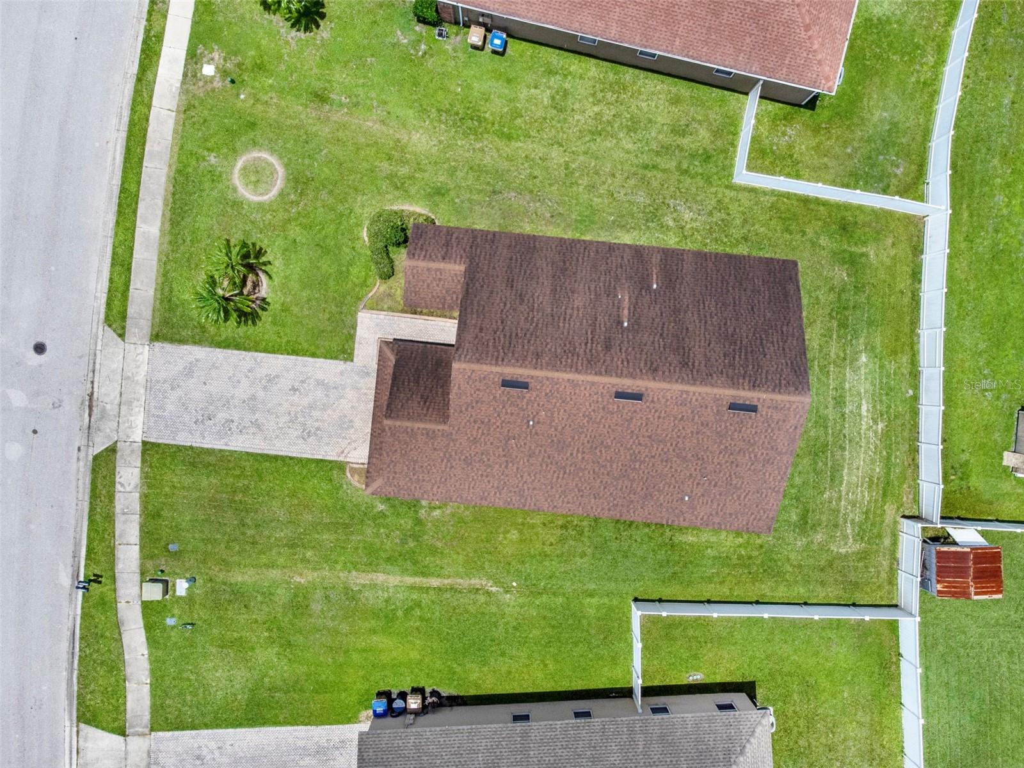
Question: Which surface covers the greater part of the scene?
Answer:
grass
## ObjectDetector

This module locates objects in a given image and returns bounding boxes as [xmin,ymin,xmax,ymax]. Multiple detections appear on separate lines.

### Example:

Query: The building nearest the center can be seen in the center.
[363,223,810,534]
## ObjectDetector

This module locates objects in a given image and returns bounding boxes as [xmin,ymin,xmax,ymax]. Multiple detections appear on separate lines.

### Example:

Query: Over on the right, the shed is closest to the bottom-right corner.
[920,540,1004,600]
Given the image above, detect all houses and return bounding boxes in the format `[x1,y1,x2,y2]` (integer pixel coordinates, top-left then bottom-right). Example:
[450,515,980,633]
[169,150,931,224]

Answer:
[356,693,772,768]
[431,0,854,109]
[363,223,810,534]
